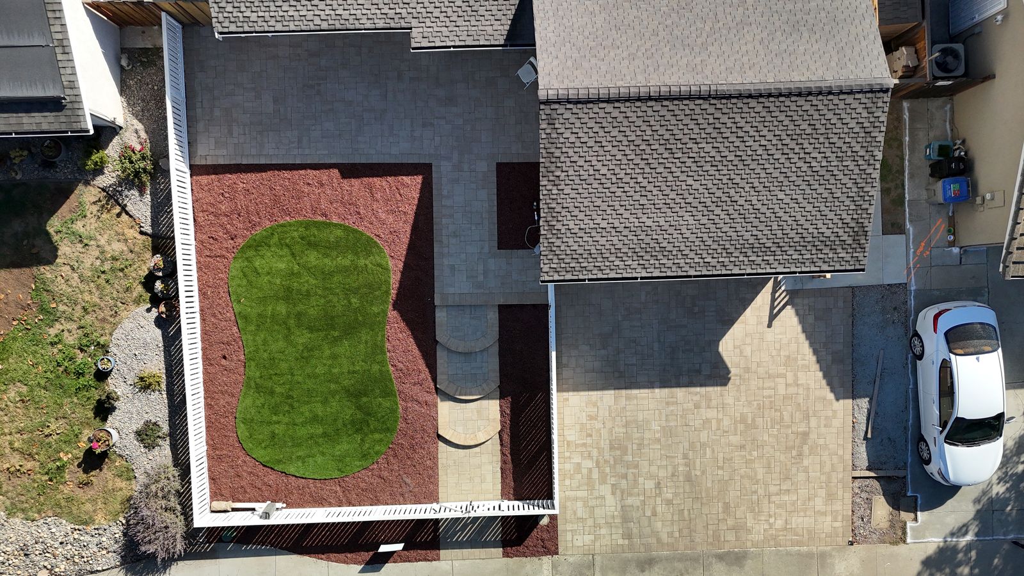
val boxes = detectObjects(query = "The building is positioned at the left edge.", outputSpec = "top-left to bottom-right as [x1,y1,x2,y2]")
[0,0,125,140]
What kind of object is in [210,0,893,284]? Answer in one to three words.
house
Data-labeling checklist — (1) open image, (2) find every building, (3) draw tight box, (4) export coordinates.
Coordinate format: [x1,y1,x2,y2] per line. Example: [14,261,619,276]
[951,0,1024,283]
[0,0,125,140]
[210,0,893,284]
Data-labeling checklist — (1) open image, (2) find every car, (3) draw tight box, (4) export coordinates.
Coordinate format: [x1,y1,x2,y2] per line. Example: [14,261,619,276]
[911,300,1019,485]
